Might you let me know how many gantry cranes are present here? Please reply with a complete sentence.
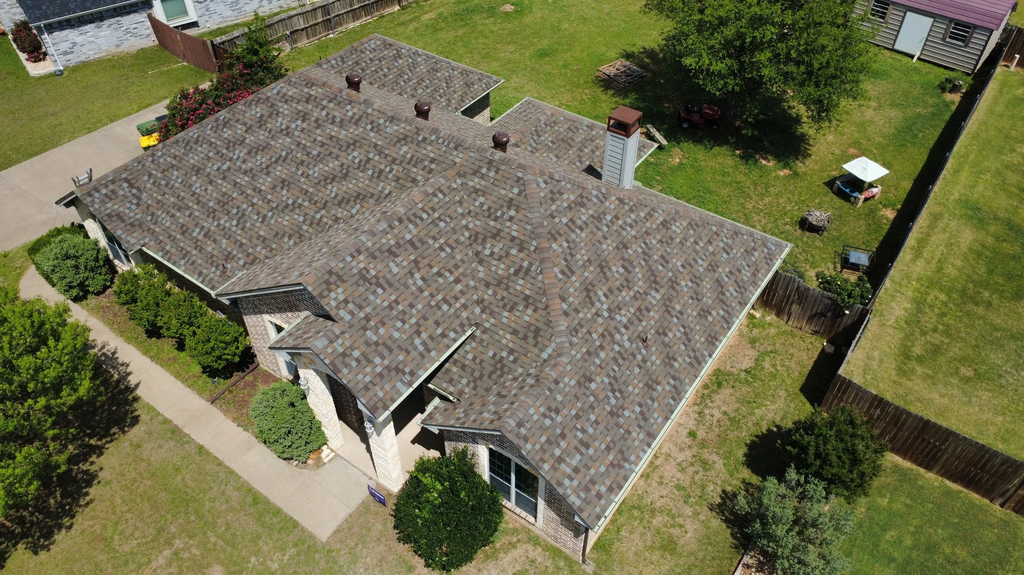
There are no gantry cranes in the image.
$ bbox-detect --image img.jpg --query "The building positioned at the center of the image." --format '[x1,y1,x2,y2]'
[53,33,795,575]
